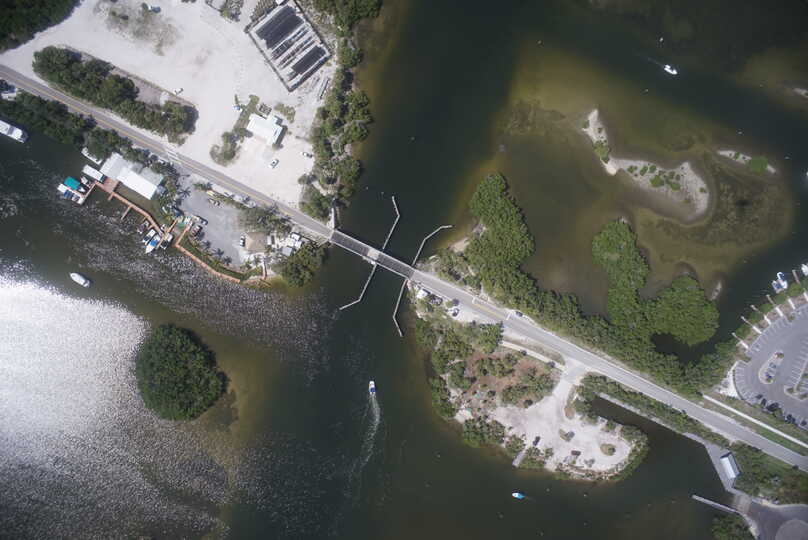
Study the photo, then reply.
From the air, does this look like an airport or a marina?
marina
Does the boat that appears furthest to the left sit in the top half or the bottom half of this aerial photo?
top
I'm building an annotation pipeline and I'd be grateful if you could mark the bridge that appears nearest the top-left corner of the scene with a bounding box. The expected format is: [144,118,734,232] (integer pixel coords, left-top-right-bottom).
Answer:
[329,227,415,282]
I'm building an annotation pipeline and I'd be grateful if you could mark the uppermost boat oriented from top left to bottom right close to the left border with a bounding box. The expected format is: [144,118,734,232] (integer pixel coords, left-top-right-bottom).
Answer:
[0,118,26,141]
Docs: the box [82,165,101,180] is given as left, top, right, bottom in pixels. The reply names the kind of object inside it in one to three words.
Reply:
boat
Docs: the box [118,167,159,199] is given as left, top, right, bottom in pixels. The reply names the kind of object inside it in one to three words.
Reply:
building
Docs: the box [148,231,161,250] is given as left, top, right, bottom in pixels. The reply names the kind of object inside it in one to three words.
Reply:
boat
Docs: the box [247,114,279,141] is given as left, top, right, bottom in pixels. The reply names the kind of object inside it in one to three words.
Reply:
house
